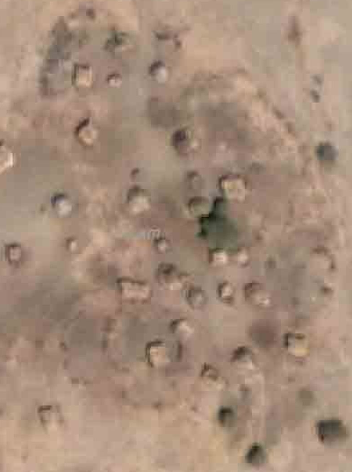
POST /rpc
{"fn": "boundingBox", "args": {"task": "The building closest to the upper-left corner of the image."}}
[78,69,96,89]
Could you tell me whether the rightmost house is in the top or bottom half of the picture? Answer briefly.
bottom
